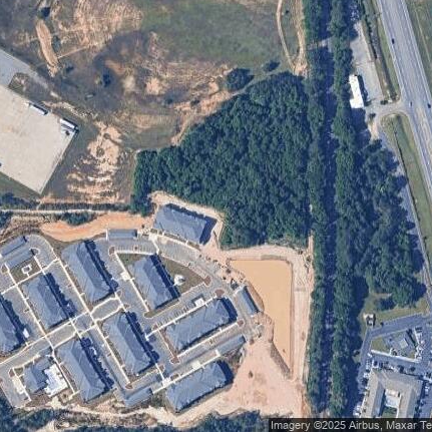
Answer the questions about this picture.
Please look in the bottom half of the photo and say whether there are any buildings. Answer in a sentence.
Yes, in the bottom half of the photo there is a building.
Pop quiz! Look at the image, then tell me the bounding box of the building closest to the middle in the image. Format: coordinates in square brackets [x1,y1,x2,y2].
[153,207,210,244]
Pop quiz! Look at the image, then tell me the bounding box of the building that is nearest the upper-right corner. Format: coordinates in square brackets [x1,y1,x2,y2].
[350,75,365,109]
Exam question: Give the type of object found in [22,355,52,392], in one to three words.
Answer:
building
